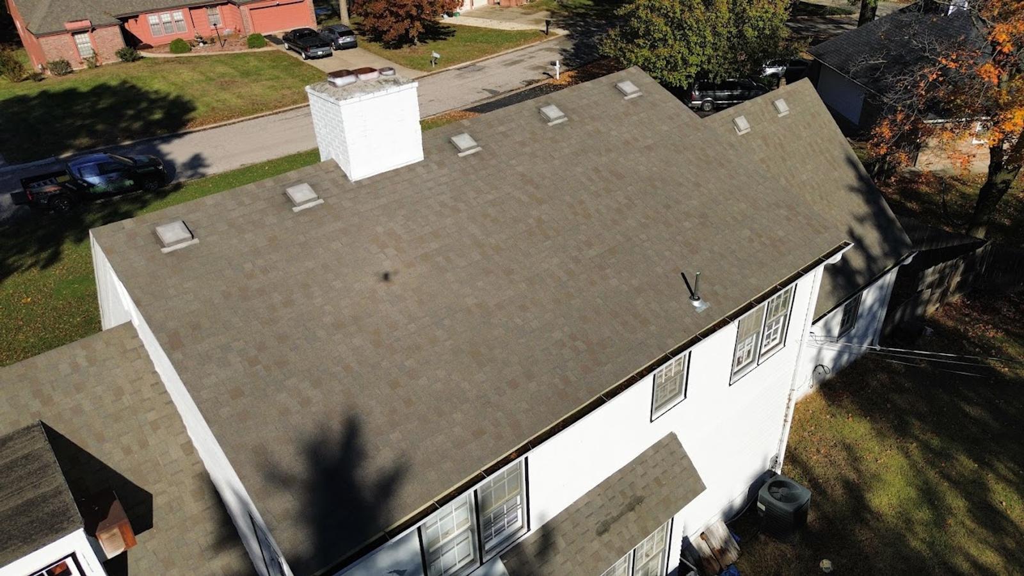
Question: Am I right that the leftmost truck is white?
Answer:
No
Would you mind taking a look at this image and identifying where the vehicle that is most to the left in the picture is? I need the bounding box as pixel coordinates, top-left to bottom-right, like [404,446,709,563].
[1,140,178,212]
